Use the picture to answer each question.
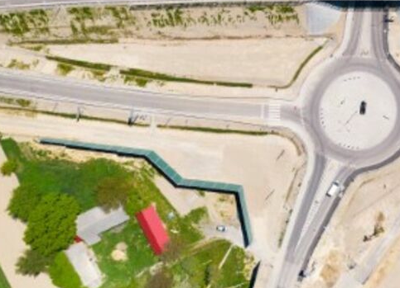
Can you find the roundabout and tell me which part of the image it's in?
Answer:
right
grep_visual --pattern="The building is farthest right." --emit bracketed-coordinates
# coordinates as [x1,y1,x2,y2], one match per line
[135,203,172,253]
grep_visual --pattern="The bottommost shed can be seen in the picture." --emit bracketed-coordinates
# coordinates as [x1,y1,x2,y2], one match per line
[63,240,109,284]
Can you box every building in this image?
[63,240,109,284]
[135,203,172,253]
[76,203,113,243]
